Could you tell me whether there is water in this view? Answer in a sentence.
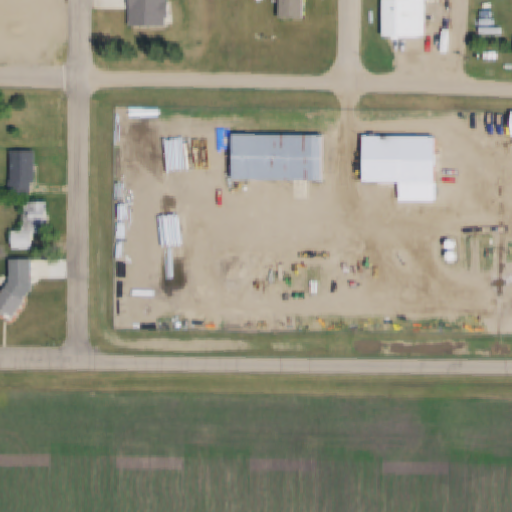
No, water can't be seen anywhere here.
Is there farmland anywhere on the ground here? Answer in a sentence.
Yes, the picture does contain farmland.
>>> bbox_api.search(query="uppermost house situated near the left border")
[8,150,34,192]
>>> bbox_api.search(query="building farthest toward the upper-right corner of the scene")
[382,0,426,37]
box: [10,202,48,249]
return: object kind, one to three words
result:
house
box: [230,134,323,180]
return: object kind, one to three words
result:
building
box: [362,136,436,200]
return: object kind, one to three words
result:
building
